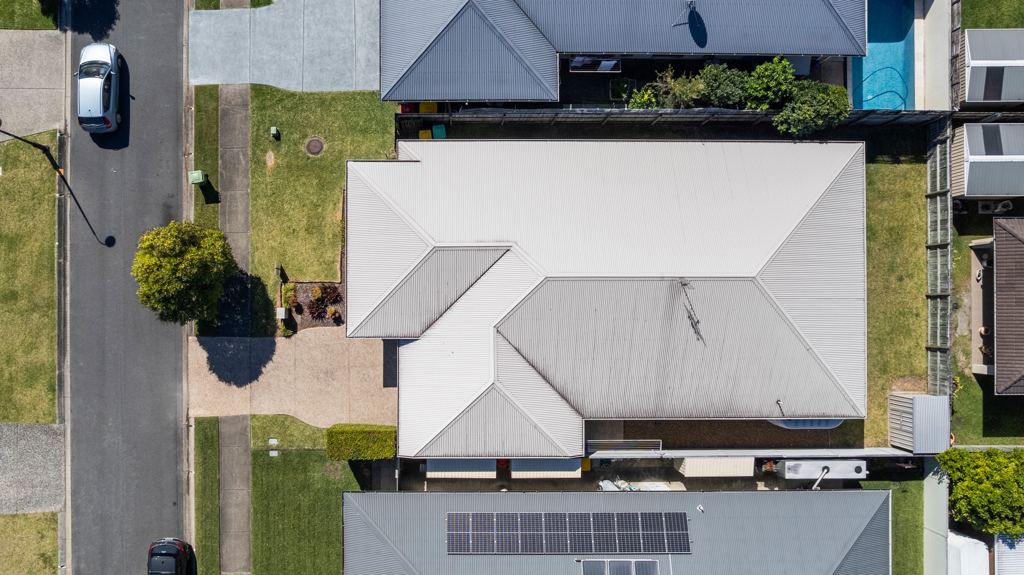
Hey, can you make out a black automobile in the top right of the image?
No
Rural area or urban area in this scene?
urban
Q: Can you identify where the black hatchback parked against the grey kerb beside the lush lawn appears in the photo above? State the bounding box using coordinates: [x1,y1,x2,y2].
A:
[147,537,188,575]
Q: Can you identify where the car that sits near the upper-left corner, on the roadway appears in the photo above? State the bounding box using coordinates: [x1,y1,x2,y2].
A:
[73,42,123,133]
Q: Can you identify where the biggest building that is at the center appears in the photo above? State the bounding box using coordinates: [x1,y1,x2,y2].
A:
[345,141,866,459]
